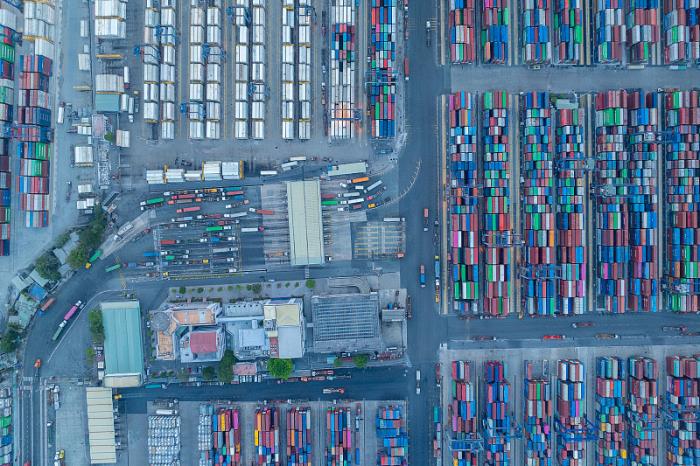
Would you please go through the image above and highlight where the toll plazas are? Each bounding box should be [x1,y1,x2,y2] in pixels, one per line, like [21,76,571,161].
[282,180,332,266]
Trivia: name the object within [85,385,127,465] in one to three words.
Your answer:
shed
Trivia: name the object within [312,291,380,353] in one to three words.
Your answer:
building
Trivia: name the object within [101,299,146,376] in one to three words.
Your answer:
building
